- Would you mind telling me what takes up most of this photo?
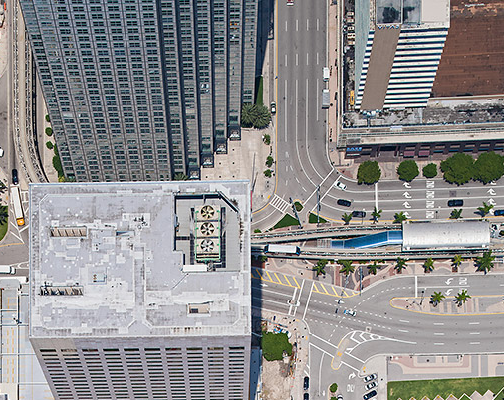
buildings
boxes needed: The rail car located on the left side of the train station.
[265,244,300,257]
